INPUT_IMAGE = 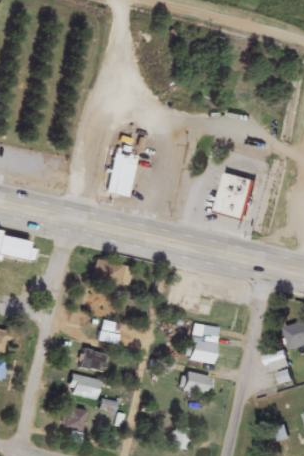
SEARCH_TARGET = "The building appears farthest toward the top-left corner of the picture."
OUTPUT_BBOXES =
[106,146,140,196]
